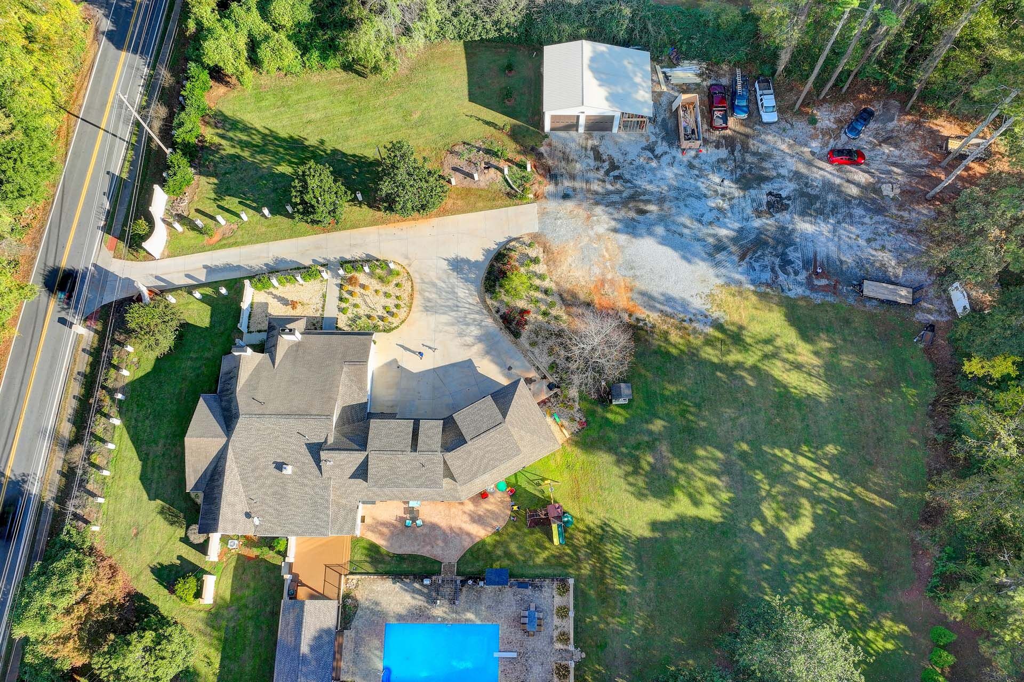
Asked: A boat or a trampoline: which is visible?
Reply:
boat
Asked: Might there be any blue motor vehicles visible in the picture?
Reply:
Yes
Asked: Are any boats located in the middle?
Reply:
No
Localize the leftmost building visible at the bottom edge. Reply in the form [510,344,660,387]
[273,601,343,682]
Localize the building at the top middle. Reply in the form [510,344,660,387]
[542,37,652,132]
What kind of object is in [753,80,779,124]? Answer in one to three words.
truck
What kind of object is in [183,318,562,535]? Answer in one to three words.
house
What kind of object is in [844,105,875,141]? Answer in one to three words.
car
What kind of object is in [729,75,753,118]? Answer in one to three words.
truck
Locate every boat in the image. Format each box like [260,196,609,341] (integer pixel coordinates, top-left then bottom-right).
[945,281,973,316]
